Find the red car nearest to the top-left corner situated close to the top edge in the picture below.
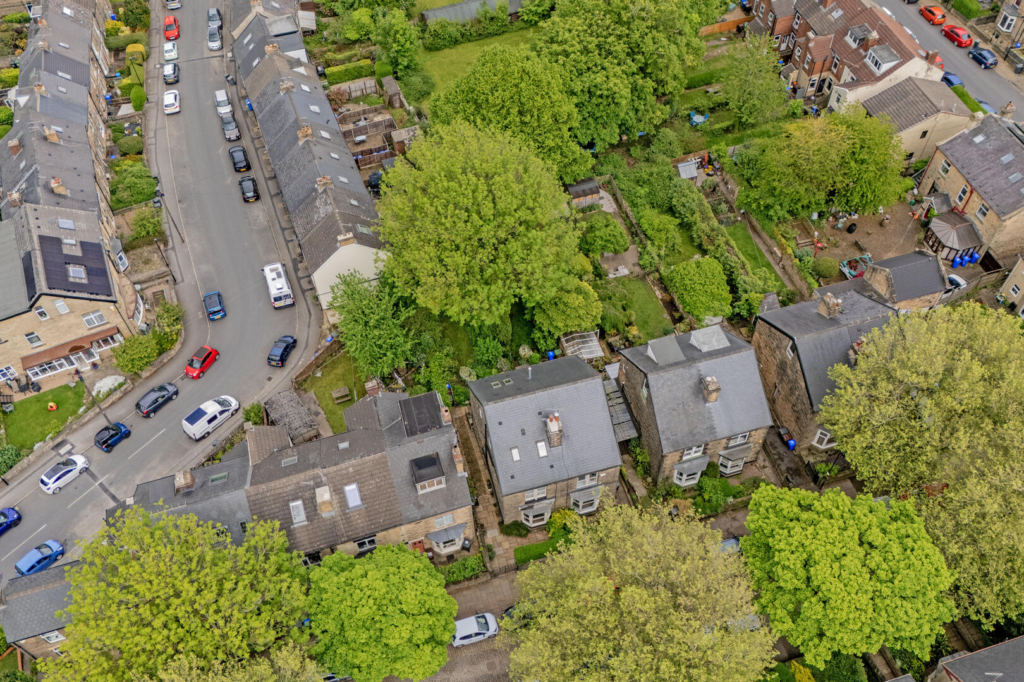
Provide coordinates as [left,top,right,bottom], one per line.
[162,15,180,40]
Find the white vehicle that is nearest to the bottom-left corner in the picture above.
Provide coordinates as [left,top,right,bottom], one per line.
[38,456,91,495]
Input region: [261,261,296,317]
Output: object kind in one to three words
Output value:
camper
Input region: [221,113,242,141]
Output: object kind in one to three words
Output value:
car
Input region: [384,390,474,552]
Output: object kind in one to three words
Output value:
house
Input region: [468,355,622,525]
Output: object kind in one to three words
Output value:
house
